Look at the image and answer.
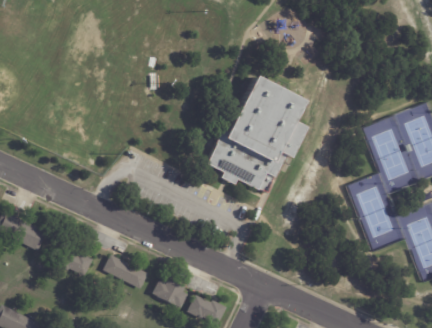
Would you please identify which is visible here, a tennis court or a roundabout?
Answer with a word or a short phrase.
tennis court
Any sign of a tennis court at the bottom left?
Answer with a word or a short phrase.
No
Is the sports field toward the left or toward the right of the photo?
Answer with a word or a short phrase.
left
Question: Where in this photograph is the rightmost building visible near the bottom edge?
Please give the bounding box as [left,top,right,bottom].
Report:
[186,292,228,322]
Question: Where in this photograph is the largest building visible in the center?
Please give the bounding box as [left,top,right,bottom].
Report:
[211,75,310,190]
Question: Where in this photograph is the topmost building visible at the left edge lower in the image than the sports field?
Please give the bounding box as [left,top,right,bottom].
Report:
[0,211,42,252]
